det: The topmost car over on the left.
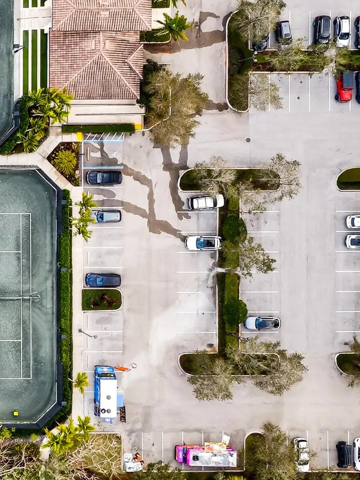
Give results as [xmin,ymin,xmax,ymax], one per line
[86,170,124,186]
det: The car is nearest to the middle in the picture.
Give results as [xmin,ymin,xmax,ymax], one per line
[185,236,222,251]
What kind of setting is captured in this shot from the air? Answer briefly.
parking lot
